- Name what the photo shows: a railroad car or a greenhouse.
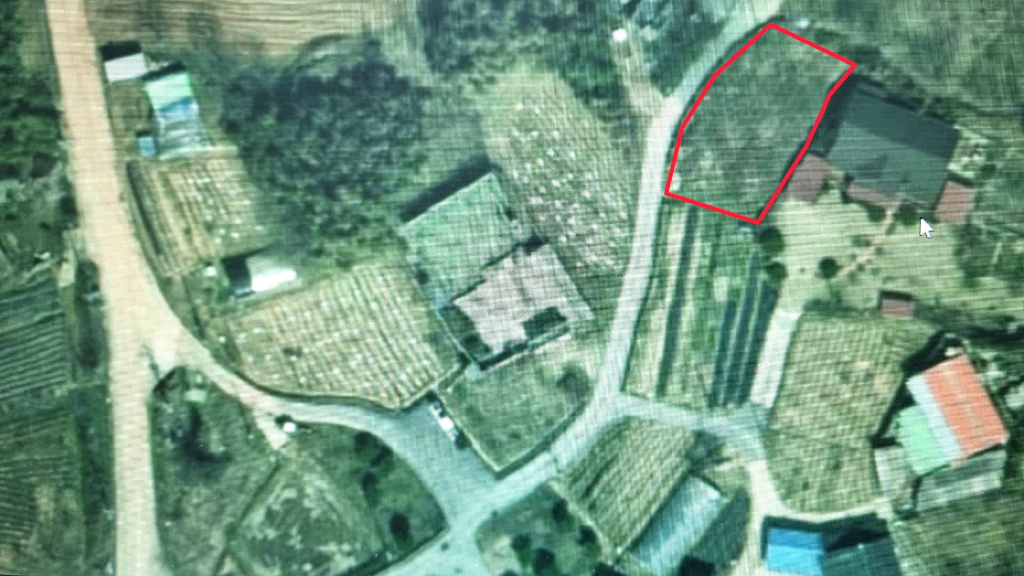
greenhouse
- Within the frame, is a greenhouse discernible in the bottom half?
Yes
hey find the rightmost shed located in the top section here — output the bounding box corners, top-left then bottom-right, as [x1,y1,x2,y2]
[935,180,975,226]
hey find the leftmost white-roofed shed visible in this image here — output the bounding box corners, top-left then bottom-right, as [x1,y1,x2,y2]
[104,52,148,83]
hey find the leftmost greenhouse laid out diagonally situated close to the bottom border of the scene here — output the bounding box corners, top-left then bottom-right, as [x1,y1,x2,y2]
[624,475,725,576]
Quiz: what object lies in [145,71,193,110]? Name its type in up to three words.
shed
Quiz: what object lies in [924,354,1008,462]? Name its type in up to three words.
barn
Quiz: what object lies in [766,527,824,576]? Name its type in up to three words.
house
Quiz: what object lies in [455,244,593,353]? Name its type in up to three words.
shed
